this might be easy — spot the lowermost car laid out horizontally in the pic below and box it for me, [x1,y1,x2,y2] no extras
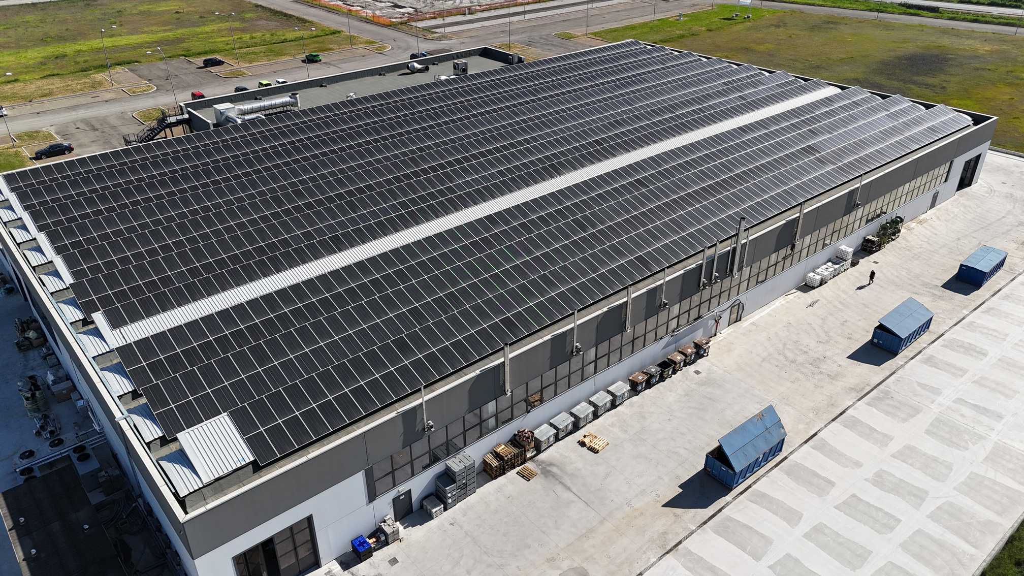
[35,144,74,160]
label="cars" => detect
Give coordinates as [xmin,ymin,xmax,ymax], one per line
[35,144,74,160]
[191,92,207,100]
[420,50,433,56]
[258,80,273,88]
[234,85,250,92]
[407,52,425,59]
[274,76,289,84]
[299,52,321,62]
[204,57,229,68]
